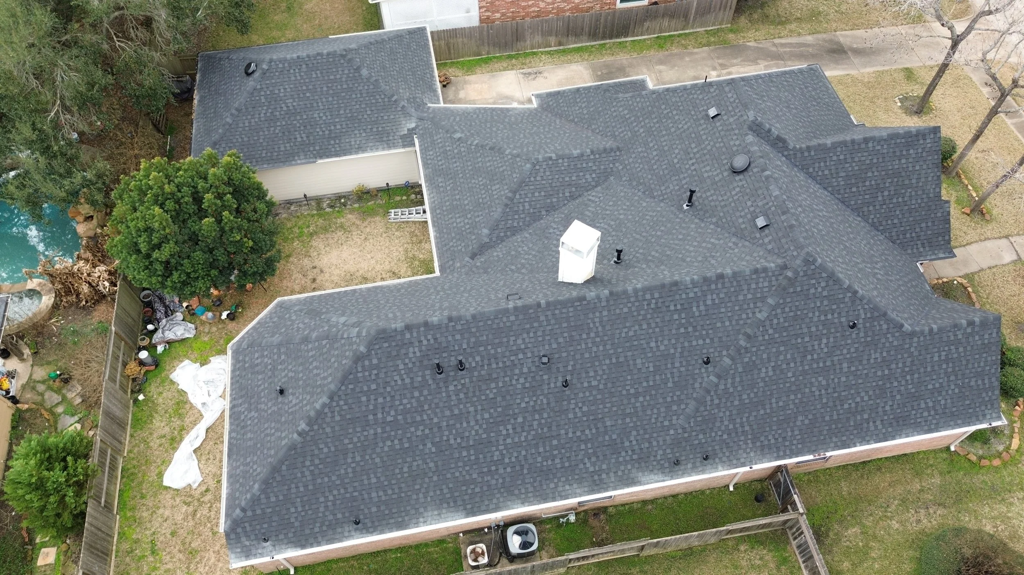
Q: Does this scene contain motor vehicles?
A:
No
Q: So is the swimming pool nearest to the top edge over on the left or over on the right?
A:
left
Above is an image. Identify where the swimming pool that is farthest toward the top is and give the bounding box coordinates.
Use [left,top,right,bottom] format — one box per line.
[0,165,80,280]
